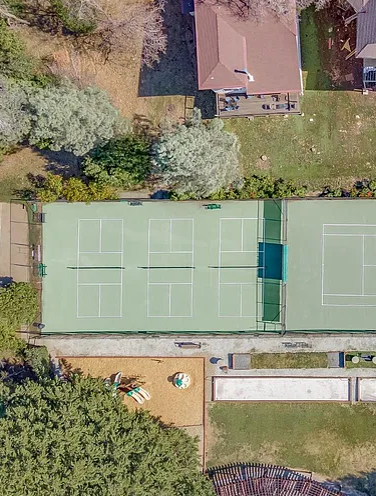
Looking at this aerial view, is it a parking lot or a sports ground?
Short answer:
sports ground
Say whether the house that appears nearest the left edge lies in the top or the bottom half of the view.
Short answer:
top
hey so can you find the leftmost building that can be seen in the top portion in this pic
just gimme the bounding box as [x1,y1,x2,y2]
[181,0,309,120]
